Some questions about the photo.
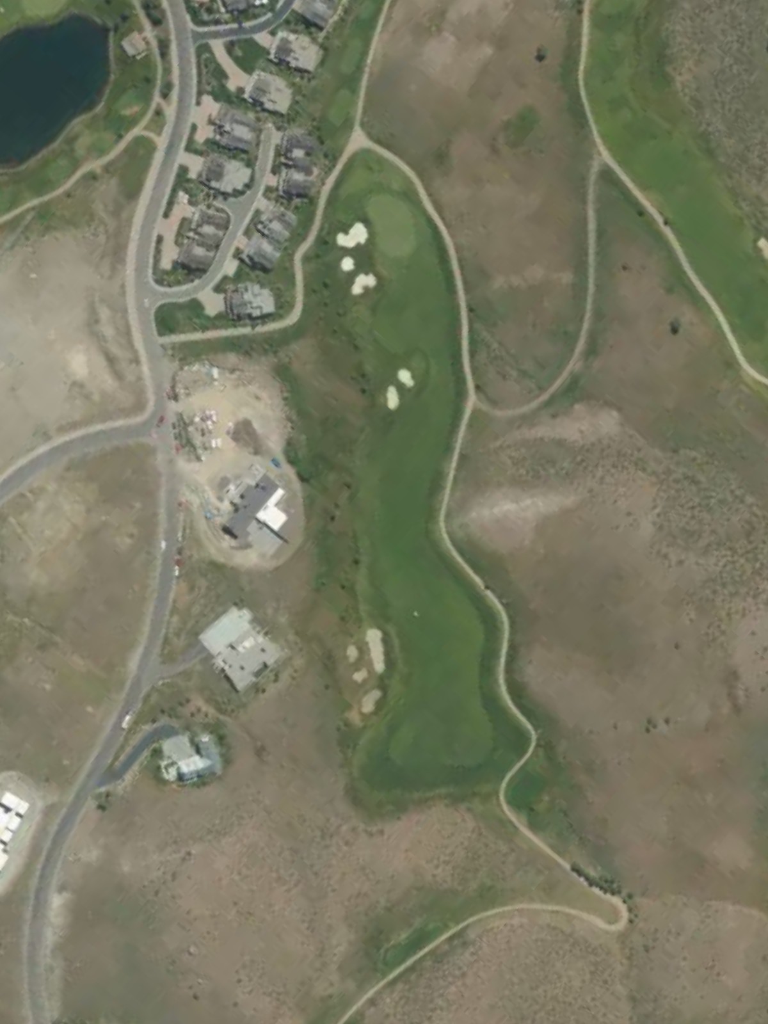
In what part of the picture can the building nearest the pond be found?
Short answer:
top left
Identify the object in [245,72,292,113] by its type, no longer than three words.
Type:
house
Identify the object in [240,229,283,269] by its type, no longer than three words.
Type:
house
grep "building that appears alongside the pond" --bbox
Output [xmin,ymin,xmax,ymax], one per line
[121,31,147,57]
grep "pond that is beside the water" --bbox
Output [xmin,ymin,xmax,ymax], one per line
[0,12,111,169]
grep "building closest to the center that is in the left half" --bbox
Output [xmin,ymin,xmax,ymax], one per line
[224,465,288,555]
